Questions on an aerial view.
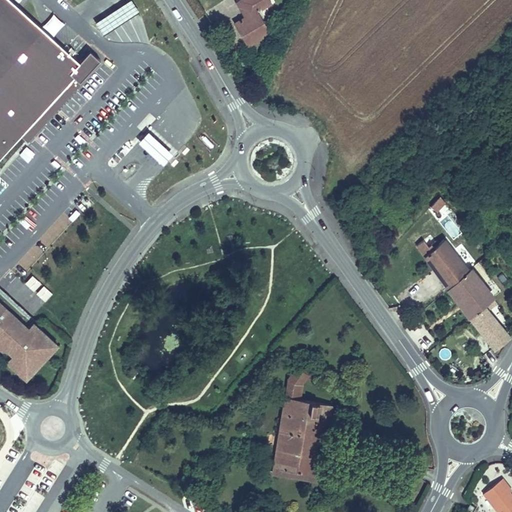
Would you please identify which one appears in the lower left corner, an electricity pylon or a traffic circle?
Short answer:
traffic circle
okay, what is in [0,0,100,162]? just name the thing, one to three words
building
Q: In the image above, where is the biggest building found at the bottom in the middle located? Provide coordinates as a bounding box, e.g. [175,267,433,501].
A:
[272,400,334,484]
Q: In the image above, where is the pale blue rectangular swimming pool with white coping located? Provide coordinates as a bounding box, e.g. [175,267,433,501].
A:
[441,216,460,238]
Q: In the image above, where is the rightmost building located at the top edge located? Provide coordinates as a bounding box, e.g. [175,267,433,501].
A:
[234,0,274,46]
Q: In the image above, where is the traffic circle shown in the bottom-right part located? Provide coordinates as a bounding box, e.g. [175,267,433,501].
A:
[429,380,512,486]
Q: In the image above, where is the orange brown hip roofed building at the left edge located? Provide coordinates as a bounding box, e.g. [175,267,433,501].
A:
[0,295,60,382]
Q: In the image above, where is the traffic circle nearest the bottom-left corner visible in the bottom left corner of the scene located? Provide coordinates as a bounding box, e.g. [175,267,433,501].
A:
[24,390,81,455]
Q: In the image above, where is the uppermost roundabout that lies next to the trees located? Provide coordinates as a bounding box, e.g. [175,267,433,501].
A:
[225,118,312,210]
